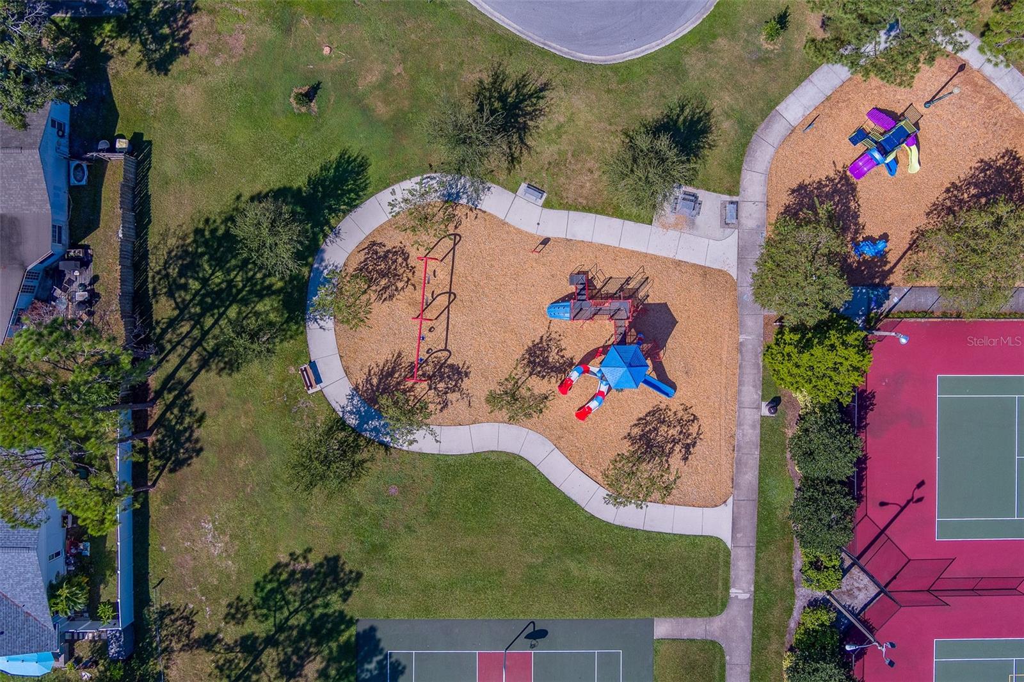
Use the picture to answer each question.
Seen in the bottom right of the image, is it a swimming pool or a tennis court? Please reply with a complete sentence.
It is a tennis court that can be seen in the bottom right of the image.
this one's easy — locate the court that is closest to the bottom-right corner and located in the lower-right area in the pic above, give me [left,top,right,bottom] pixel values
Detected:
[838,591,1024,682]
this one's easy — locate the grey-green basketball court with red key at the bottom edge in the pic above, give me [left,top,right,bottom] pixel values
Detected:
[356,619,654,682]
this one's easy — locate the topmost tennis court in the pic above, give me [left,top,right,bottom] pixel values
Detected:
[842,321,1024,591]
